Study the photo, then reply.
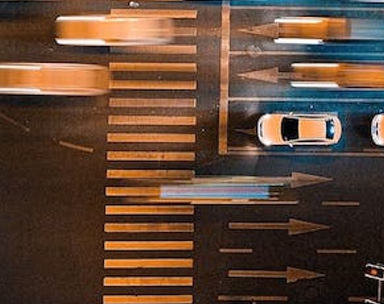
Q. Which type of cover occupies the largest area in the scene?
paved ground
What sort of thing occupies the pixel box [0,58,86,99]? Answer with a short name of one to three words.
van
